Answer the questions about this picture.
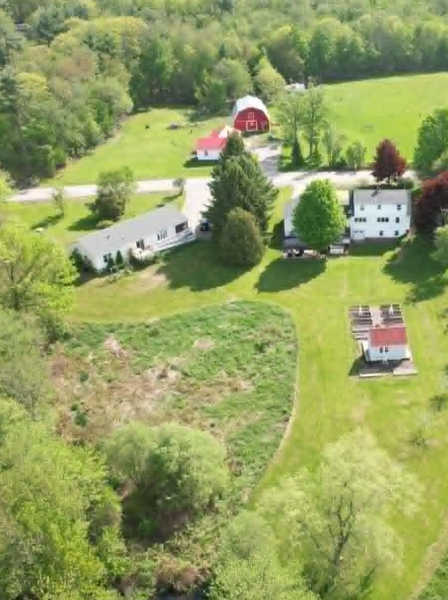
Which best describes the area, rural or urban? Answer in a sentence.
It looks rural.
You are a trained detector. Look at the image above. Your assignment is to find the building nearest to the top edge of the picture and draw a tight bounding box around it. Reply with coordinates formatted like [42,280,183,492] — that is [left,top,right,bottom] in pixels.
[233,94,271,130]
